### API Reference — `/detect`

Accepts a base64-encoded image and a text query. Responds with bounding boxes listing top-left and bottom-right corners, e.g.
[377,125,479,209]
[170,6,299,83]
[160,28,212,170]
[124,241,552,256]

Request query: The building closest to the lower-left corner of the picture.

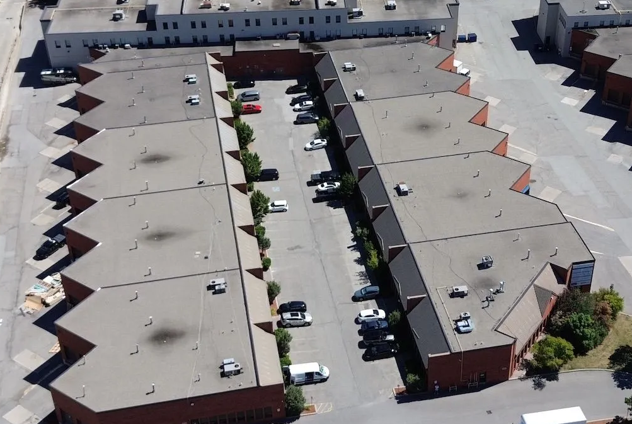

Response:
[51,45,286,424]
